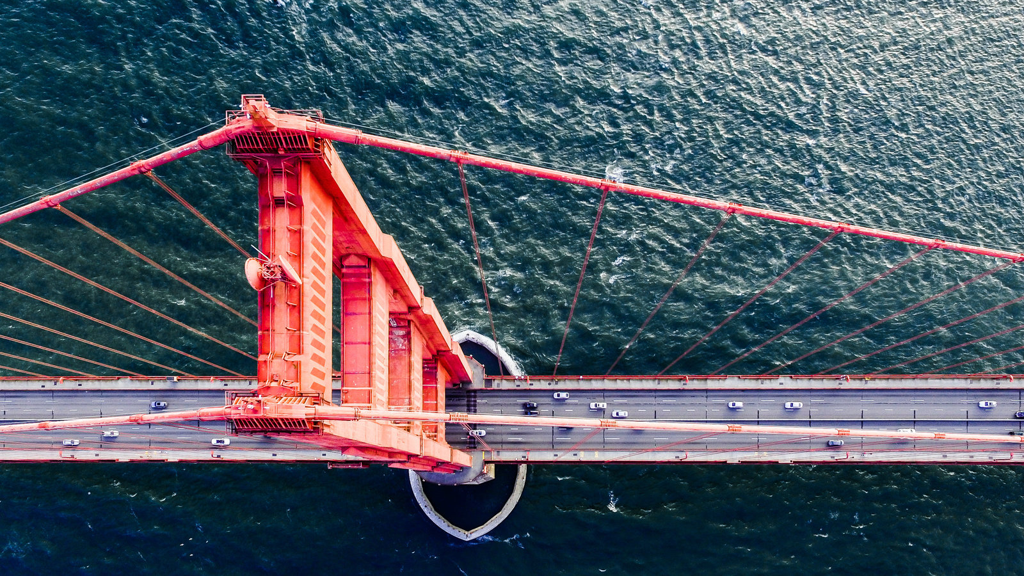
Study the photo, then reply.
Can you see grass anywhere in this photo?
No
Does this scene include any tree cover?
No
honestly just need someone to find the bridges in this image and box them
[0,94,1024,484]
